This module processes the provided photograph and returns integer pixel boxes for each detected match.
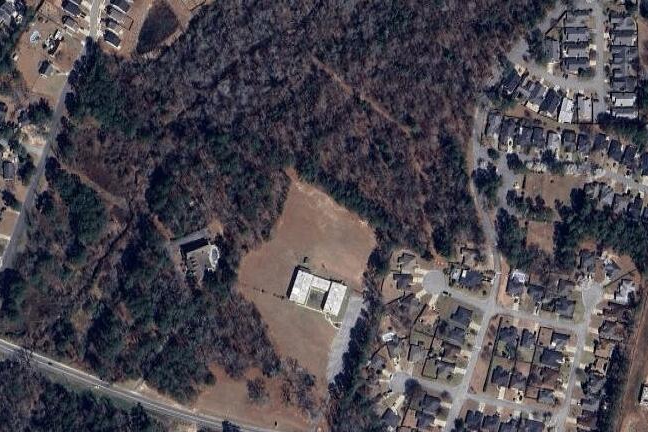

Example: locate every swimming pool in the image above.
[31,30,41,42]
[209,245,220,267]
